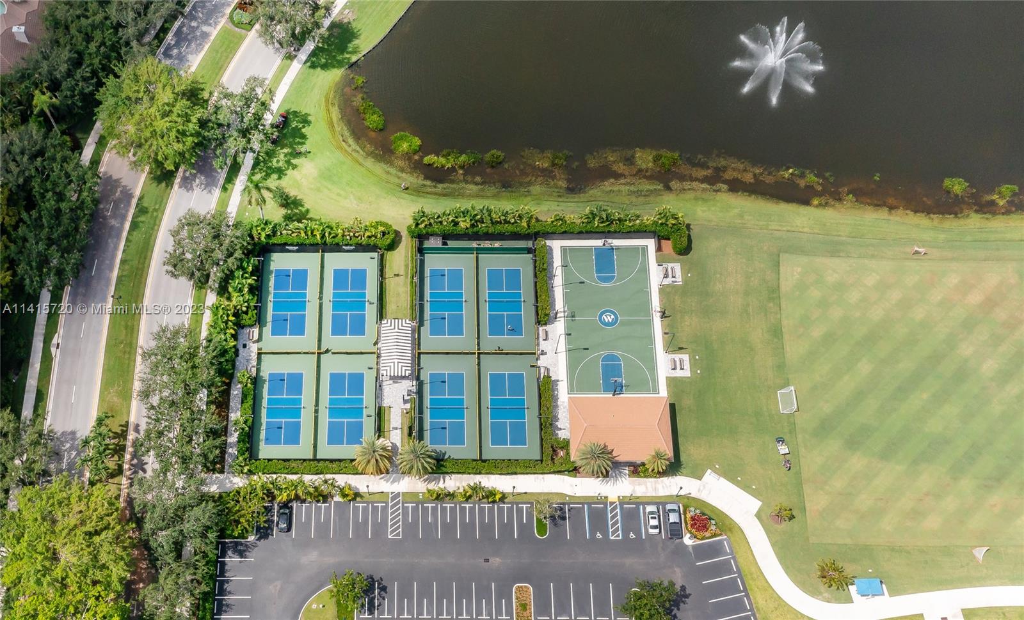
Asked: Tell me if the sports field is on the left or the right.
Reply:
right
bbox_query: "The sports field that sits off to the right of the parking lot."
[780,254,1024,547]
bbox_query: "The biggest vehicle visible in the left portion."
[277,506,291,535]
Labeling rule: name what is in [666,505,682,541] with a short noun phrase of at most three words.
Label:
vehicle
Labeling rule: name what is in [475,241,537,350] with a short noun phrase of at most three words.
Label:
sports court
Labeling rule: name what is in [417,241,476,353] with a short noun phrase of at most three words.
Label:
sports court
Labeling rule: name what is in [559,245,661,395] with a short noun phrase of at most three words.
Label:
basketball court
